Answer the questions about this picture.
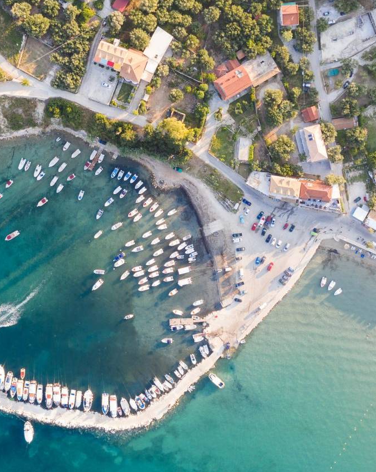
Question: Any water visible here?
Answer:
Yes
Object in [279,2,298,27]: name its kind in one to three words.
house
